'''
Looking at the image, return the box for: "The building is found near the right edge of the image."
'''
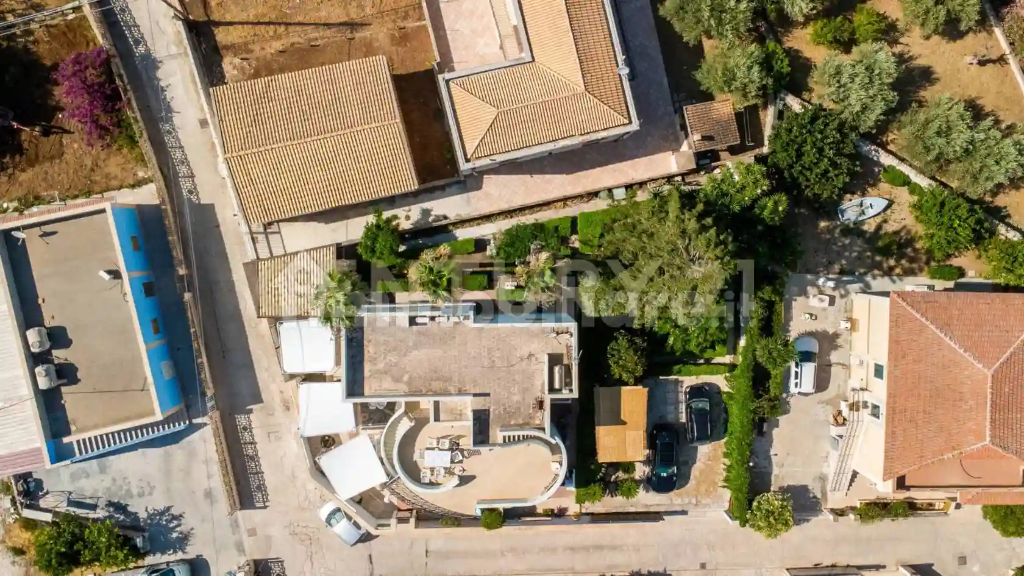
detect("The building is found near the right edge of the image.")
[848,290,1024,496]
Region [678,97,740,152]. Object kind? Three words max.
shed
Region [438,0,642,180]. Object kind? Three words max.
house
